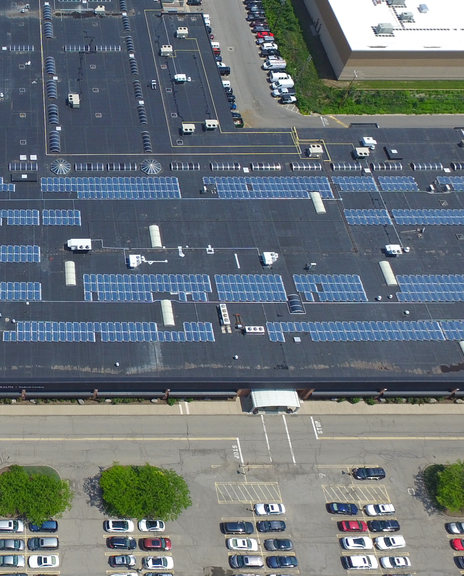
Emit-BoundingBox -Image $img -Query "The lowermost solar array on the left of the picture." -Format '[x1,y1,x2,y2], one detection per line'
[3,322,216,342]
